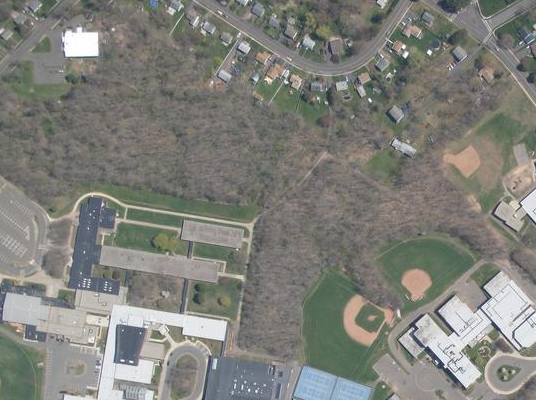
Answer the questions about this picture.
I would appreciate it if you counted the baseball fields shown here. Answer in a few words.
2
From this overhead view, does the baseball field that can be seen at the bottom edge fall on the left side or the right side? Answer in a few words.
right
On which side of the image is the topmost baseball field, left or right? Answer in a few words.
right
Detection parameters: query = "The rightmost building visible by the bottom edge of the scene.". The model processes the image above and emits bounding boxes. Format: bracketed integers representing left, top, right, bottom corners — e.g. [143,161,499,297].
[398,271,536,389]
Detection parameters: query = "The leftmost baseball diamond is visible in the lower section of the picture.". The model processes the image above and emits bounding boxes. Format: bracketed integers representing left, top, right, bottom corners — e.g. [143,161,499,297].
[300,270,401,388]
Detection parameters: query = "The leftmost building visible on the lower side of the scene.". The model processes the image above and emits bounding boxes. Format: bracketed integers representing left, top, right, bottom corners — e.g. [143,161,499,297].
[2,197,245,400]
